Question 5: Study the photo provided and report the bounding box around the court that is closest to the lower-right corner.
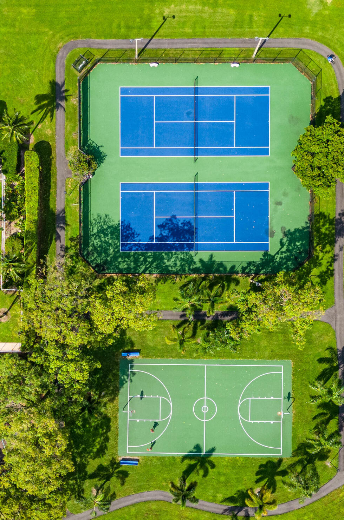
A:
[118,359,291,457]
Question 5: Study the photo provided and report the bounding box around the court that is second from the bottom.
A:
[80,169,312,274]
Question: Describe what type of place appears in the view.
sports ground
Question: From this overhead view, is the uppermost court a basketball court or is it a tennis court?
tennis court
